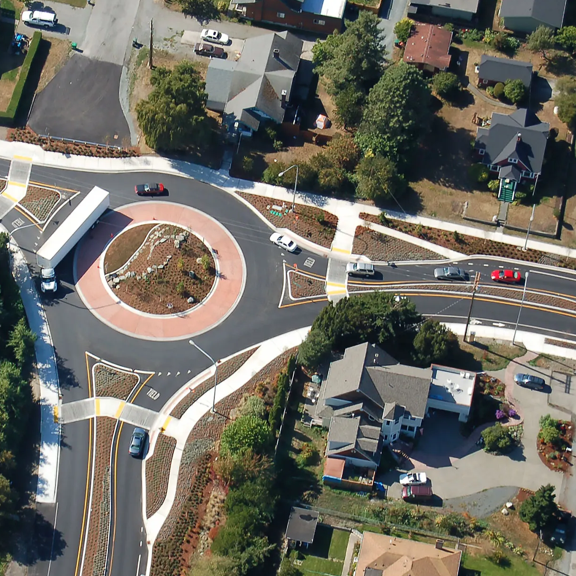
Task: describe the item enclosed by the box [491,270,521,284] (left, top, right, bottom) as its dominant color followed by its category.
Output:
red car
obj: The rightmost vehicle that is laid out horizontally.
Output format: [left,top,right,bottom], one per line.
[513,373,546,390]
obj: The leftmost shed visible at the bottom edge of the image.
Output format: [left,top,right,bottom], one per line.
[287,507,320,551]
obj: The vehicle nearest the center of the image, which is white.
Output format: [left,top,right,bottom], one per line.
[268,233,301,255]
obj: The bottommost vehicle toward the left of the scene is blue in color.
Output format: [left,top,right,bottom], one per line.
[130,430,146,457]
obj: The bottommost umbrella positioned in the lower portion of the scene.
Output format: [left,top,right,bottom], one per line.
[308,372,325,388]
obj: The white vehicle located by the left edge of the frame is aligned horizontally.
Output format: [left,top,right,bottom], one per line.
[23,12,57,27]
